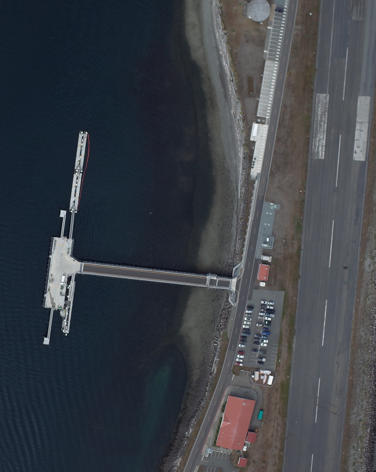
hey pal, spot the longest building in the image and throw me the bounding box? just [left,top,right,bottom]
[216,395,255,449]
